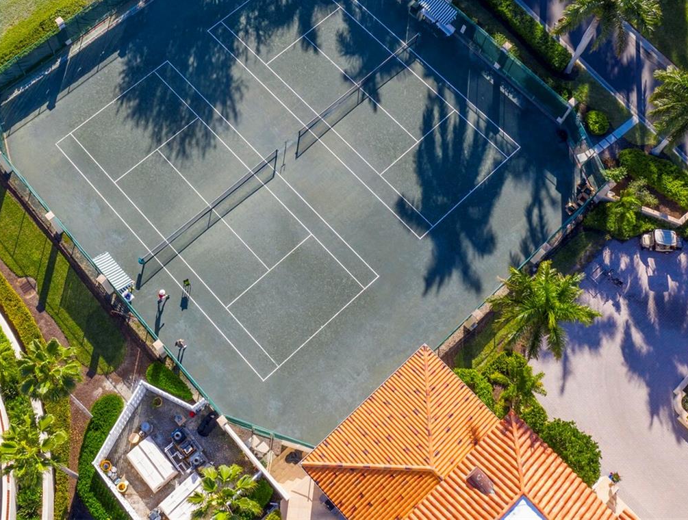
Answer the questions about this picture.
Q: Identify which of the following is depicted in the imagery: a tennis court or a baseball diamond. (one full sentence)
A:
I can see a tennis court in this picture.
